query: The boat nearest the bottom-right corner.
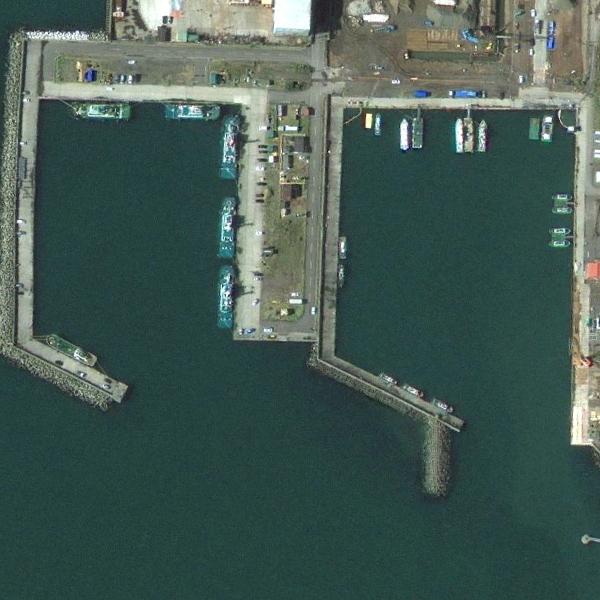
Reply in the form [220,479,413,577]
[432,399,452,412]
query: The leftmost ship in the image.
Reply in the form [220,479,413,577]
[45,333,101,368]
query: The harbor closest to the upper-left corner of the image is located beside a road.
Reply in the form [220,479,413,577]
[33,81,318,385]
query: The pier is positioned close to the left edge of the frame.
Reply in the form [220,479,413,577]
[0,29,128,411]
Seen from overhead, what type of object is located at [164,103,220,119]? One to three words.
boat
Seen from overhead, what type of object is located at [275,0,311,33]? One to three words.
building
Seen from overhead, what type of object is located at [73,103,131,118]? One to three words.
boat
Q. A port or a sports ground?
port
